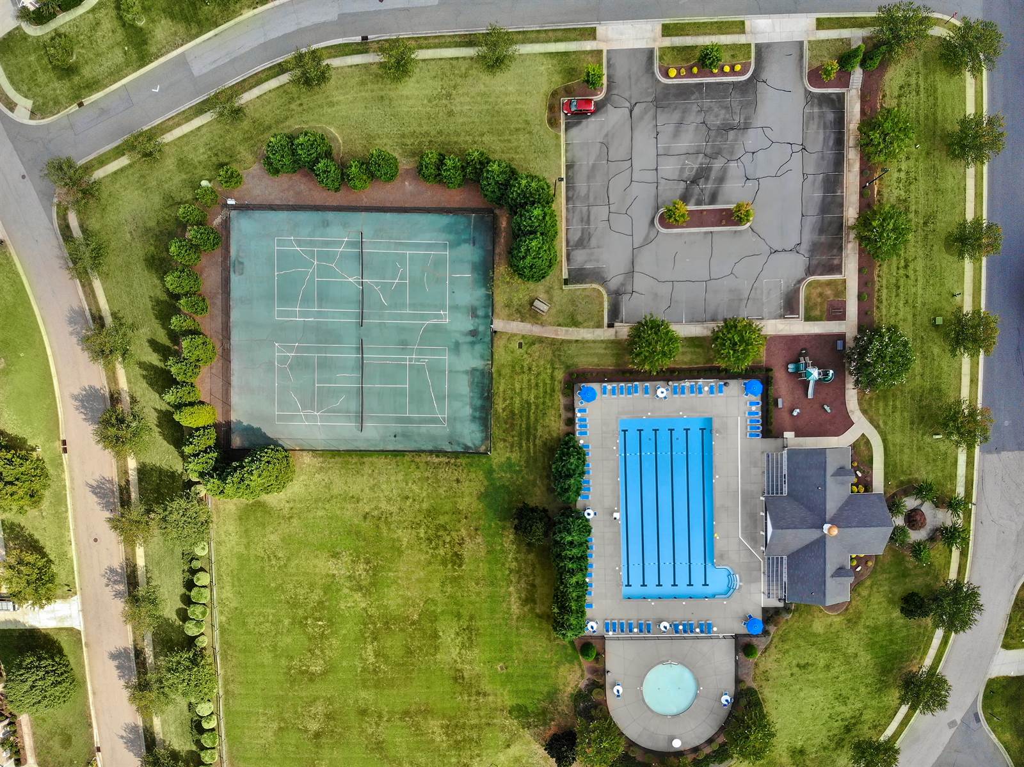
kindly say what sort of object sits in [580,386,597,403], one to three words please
umbrella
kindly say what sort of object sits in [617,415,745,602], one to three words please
swimming pool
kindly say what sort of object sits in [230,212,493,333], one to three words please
tennis court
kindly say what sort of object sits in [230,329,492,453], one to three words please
tennis court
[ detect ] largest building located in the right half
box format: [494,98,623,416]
[757,447,894,609]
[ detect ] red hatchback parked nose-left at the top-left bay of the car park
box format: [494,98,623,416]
[565,96,596,114]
